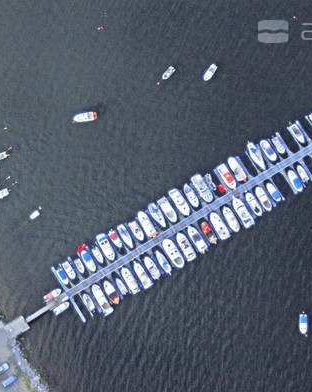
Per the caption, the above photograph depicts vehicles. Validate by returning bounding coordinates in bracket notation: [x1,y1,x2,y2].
[0,362,11,374]
[3,374,19,386]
